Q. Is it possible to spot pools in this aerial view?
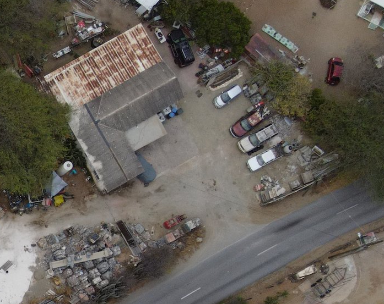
No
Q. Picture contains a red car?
Yes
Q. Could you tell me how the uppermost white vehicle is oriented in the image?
on a diagonal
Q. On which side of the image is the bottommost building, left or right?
left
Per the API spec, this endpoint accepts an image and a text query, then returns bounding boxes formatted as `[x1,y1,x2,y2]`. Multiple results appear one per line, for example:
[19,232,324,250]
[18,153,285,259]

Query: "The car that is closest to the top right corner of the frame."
[322,56,344,88]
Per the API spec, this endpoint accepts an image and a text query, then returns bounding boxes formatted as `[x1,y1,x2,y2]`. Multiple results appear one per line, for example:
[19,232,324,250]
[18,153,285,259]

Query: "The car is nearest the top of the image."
[167,30,191,68]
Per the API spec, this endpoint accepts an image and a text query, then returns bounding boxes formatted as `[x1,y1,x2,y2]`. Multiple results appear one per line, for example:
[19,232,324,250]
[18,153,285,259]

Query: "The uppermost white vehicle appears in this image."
[211,82,245,109]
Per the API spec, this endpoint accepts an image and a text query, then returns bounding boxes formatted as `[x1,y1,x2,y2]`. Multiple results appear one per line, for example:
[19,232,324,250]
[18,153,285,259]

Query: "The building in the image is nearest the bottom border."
[42,24,184,195]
